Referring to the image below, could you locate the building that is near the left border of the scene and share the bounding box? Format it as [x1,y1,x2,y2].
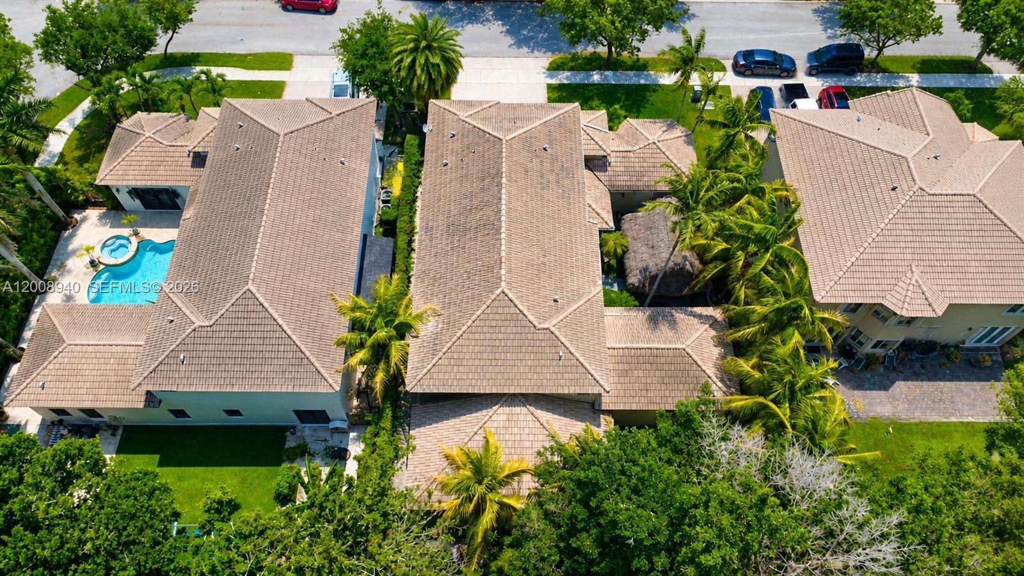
[2,94,380,423]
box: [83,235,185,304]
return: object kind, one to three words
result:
swimming pool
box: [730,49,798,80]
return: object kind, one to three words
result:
car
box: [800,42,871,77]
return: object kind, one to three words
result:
car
